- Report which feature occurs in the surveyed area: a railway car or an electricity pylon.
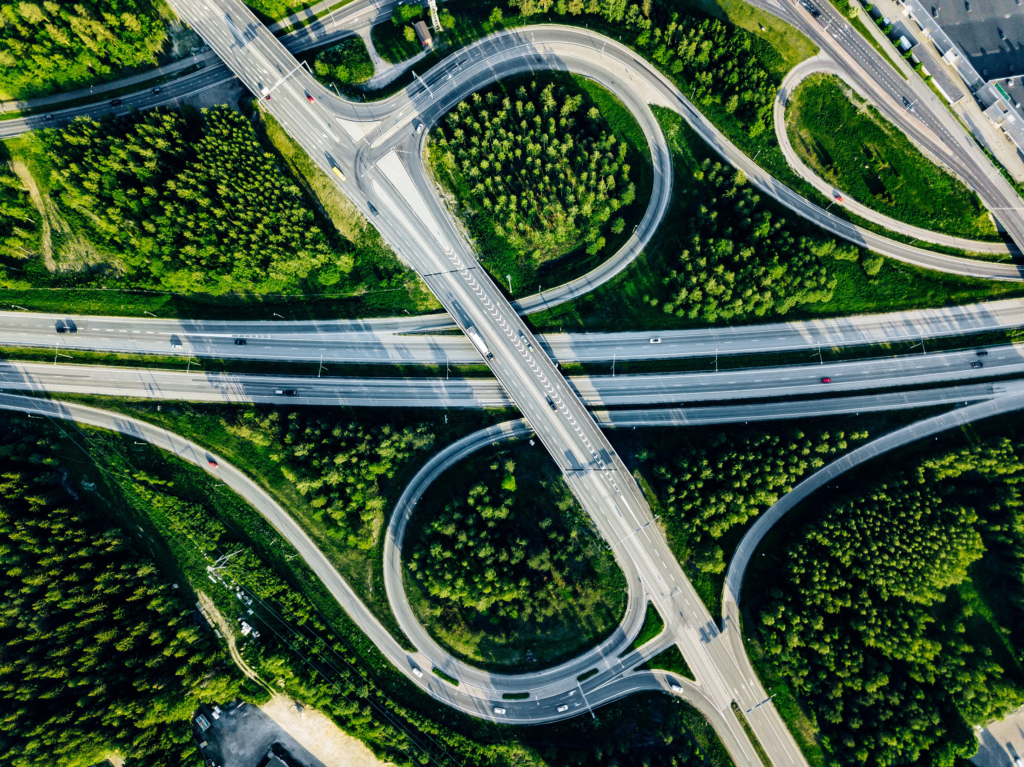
electricity pylon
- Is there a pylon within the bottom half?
Yes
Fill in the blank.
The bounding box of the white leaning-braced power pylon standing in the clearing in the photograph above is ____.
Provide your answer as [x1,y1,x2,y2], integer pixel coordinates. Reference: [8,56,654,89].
[198,549,243,577]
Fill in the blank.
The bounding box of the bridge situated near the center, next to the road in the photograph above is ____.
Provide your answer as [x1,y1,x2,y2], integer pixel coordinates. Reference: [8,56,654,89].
[422,266,628,471]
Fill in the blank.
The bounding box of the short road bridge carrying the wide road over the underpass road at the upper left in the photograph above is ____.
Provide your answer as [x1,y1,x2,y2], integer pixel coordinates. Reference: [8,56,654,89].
[201,15,304,89]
